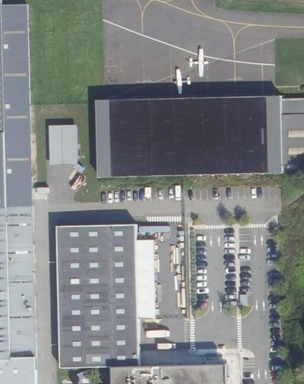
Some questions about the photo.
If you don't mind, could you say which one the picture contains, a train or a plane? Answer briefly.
plane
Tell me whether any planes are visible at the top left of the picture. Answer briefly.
No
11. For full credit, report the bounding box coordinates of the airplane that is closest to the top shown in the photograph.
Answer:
[188,48,208,76]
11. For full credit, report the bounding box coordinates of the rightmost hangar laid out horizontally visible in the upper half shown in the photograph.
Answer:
[94,94,284,178]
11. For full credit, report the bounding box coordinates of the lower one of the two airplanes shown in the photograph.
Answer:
[174,68,192,94]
